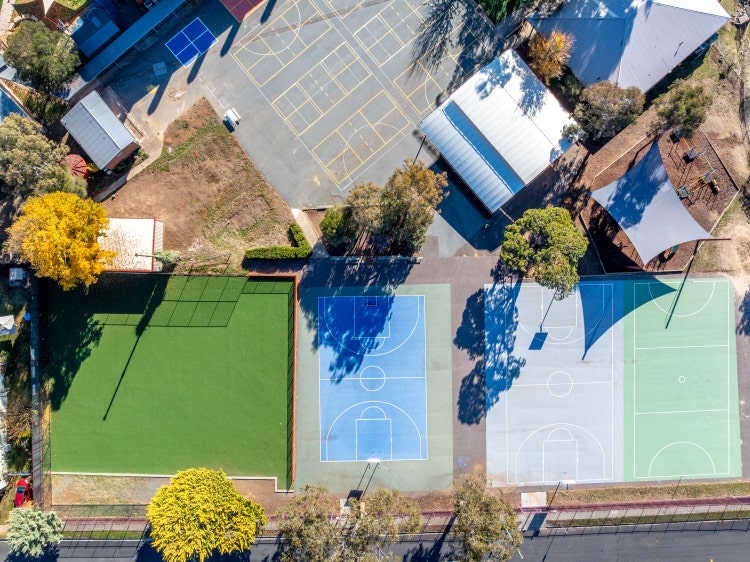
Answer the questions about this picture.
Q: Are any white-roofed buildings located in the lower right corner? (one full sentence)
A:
No, the scene shows no white-roofed building in the lower right corner.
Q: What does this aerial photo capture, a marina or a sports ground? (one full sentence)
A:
This image shows a sports ground.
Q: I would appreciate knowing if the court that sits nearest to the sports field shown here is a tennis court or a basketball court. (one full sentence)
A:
In the photo, the court that sits nearest to the sports field shows up as a basketball court.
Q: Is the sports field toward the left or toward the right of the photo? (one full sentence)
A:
You can find the sports field on the left side of the picture.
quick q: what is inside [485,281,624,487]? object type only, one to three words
basketball court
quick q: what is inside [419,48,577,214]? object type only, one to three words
building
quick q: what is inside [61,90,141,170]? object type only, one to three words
building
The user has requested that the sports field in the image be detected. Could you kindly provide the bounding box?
[47,276,296,492]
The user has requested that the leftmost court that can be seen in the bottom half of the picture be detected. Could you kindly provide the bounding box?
[296,284,453,491]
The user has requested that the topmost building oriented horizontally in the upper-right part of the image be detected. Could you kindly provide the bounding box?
[525,0,731,95]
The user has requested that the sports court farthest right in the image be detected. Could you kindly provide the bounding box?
[623,278,741,481]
